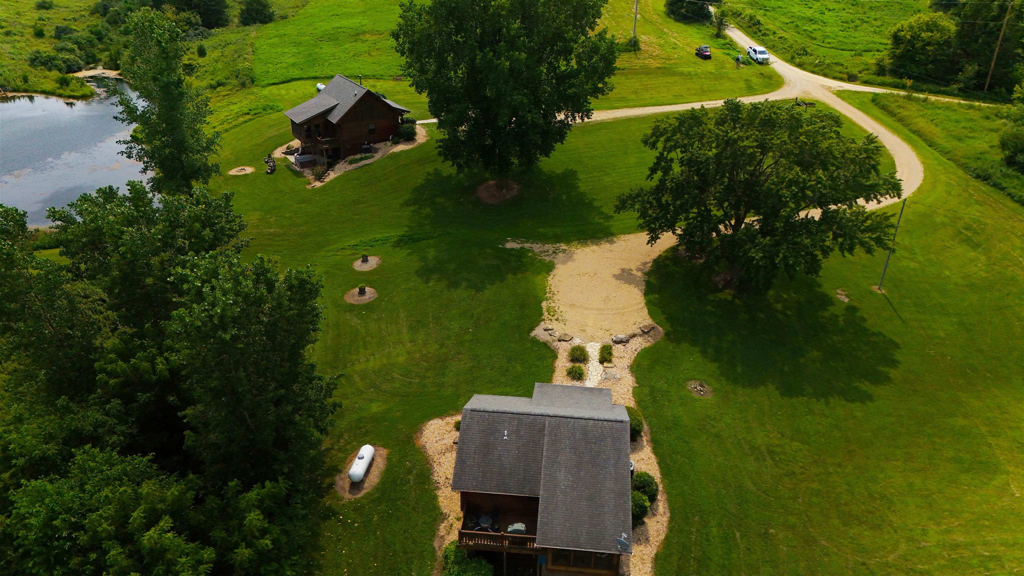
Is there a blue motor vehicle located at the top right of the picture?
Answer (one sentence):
No, at the top right of the picture there is no blue motor vehicle.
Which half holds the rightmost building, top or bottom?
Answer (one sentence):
You can find the rightmost building in the bottom half.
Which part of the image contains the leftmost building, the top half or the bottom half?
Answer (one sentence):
The leftmost building sits in the top half of the picture.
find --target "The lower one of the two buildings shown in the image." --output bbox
[455,383,632,576]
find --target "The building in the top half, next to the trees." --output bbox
[283,72,420,169]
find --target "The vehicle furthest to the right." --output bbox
[745,42,774,64]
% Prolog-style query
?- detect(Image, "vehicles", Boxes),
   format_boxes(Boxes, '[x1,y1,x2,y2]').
[745,42,774,64]
[695,42,711,60]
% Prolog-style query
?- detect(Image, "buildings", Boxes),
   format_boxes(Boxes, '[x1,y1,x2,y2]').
[283,72,420,169]
[455,383,632,576]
